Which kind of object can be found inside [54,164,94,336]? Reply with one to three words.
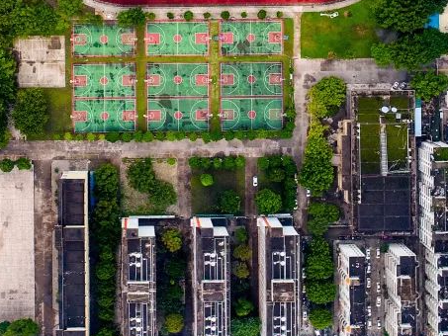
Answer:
building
